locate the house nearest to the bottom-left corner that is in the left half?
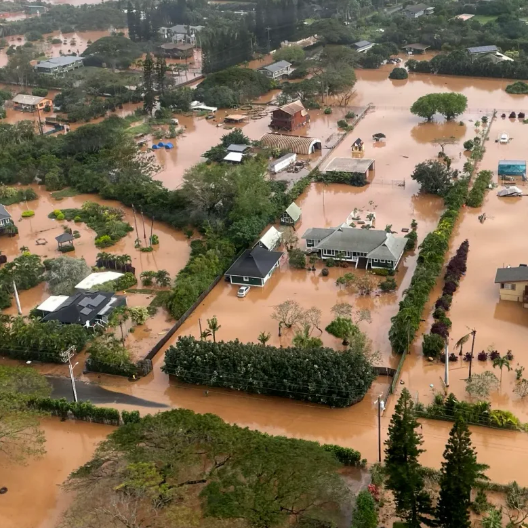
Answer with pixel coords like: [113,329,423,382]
[37,268,130,336]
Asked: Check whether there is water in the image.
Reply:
Yes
